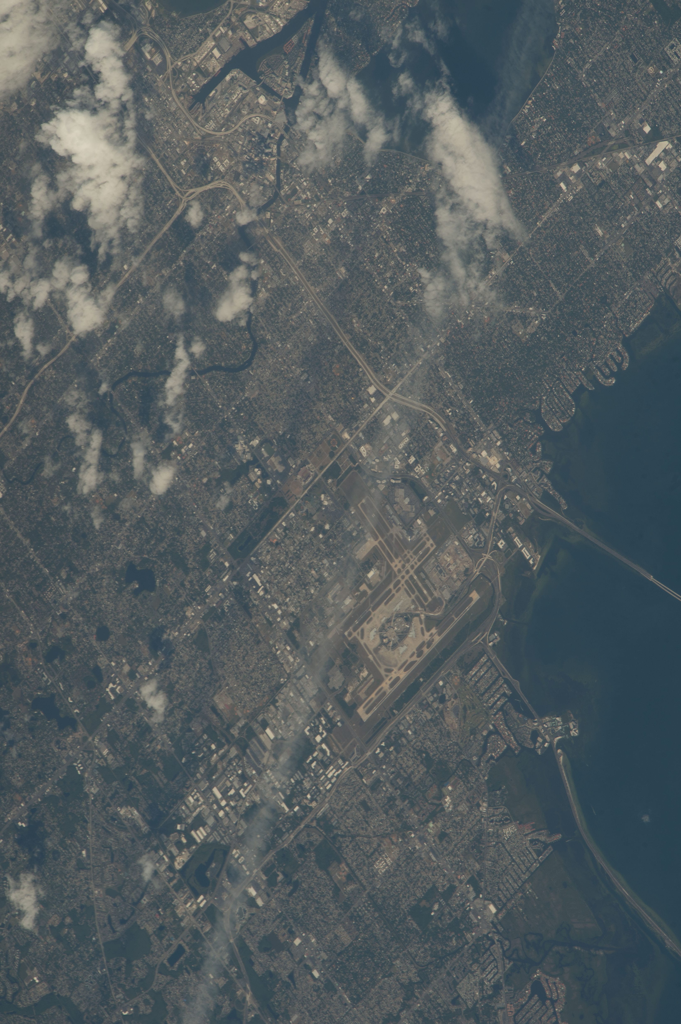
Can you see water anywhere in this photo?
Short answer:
Yes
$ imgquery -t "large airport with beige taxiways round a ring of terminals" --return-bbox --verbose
[332,496,485,752]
